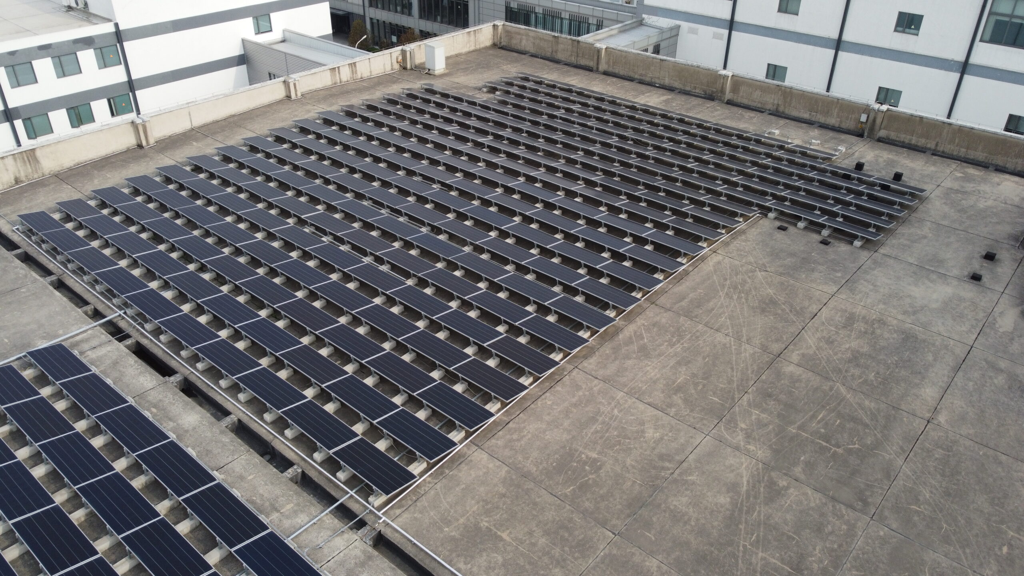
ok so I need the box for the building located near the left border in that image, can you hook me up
[0,0,333,150]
